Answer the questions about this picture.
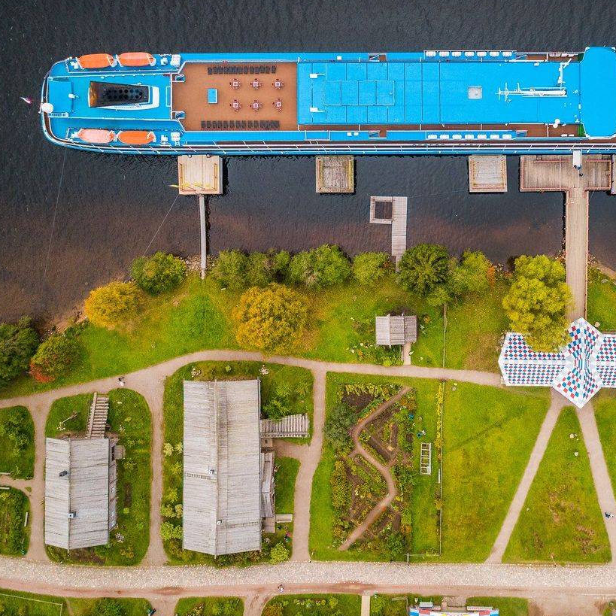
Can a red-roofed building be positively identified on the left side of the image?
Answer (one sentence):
No, on the left side of the image there is no red-roofed building.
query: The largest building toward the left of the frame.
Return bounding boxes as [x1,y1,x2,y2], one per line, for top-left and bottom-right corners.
[183,377,310,560]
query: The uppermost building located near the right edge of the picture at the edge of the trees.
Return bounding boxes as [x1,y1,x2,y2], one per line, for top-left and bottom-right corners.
[498,317,616,410]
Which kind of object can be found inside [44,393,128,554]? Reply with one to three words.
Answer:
house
